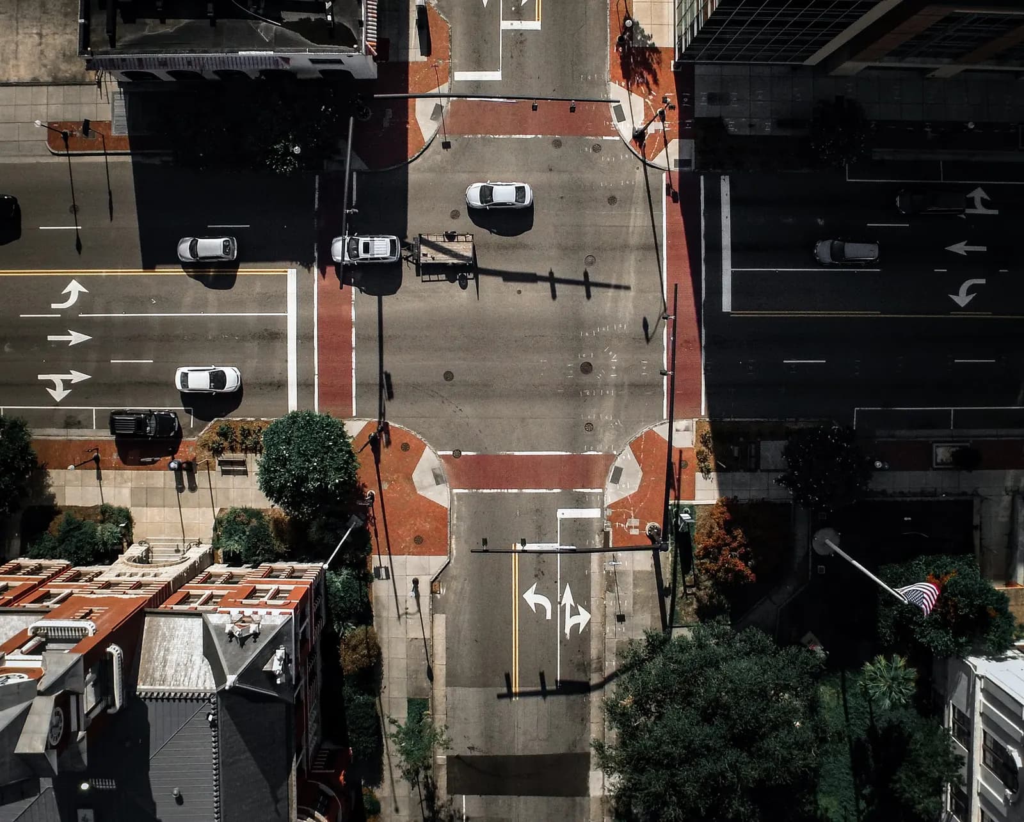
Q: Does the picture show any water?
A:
No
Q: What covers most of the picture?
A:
paved ground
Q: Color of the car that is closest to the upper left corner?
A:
black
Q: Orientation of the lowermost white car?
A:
horizontally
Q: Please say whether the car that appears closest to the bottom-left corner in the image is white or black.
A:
black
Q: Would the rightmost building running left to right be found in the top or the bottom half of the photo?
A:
top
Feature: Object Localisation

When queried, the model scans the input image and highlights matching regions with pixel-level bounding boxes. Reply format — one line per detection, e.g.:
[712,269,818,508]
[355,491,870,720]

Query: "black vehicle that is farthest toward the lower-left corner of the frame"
[108,408,179,440]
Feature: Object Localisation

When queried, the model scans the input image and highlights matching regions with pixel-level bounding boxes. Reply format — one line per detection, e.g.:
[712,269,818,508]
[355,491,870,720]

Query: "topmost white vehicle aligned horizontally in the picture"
[466,179,532,211]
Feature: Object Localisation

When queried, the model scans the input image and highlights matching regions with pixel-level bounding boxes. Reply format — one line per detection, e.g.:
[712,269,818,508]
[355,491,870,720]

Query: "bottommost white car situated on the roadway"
[175,364,241,396]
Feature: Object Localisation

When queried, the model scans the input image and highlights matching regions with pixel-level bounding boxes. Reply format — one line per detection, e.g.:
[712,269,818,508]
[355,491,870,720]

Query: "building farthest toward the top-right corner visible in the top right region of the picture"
[831,0,1024,68]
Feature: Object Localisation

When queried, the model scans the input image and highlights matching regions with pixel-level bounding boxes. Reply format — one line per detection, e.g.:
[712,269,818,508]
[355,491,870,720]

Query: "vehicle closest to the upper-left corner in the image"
[0,194,24,222]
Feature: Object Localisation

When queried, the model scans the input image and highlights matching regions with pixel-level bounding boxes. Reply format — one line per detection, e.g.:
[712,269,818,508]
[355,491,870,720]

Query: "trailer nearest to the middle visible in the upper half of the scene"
[401,239,475,275]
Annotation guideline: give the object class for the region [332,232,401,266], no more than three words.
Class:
car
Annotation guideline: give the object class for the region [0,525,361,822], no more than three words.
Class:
building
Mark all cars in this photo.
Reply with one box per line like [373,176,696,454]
[178,233,238,265]
[175,364,241,396]
[466,179,532,211]
[108,408,179,440]
[332,232,401,266]
[813,235,881,268]
[0,194,24,222]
